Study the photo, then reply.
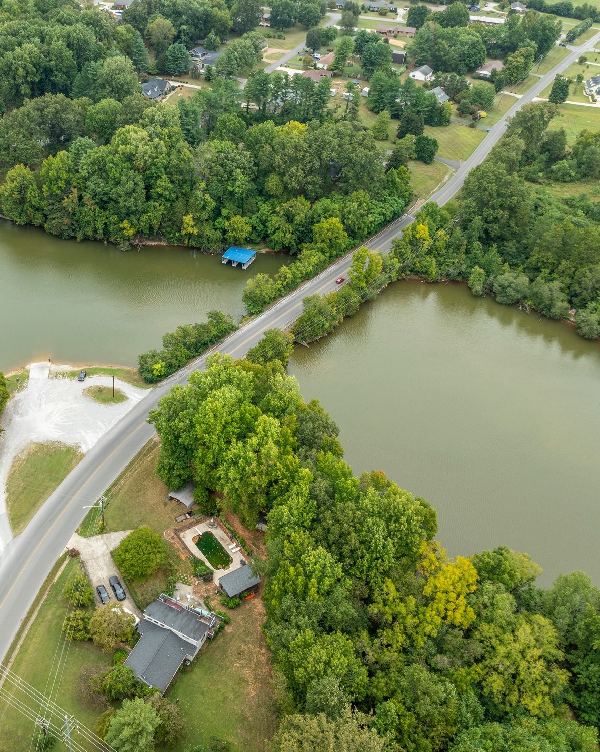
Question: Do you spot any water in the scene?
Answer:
Yes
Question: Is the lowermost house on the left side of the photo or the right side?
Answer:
left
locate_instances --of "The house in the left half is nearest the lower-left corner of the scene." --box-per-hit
[129,587,229,697]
